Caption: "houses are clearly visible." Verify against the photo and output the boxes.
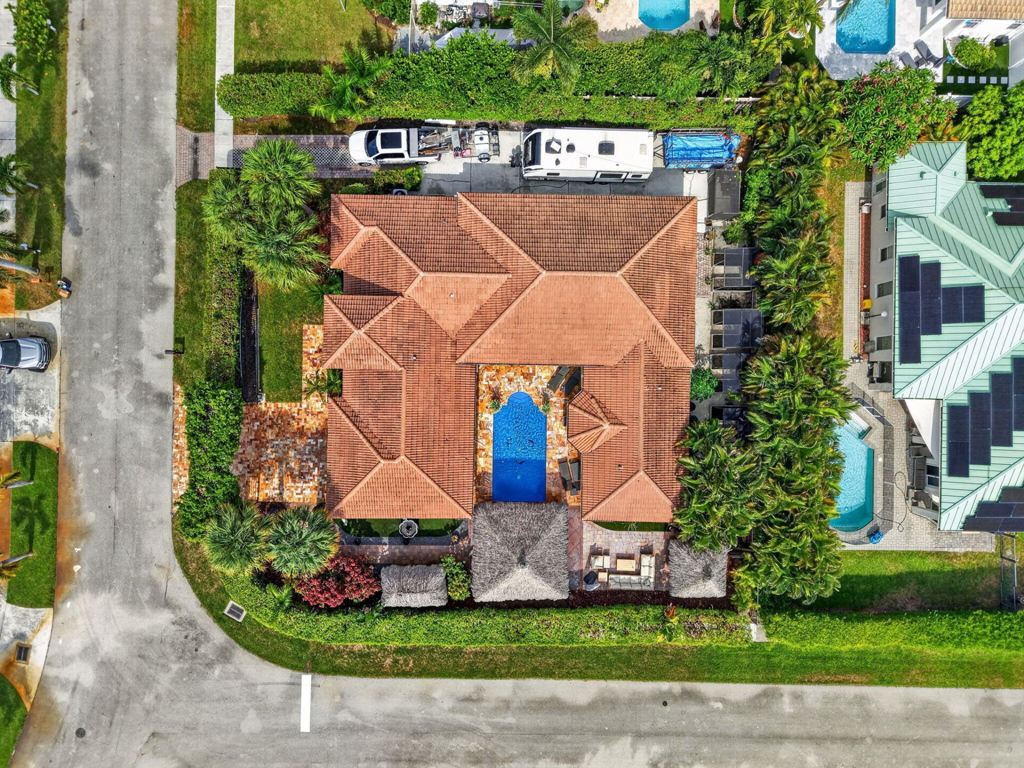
[921,0,1024,43]
[872,143,1024,533]
[322,191,699,524]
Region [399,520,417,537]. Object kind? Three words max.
fountain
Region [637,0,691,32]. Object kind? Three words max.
swimming pool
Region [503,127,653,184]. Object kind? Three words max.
trailer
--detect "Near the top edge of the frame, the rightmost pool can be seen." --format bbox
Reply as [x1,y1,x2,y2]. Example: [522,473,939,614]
[835,0,897,55]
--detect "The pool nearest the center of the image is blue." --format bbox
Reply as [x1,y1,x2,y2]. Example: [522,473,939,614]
[492,391,546,503]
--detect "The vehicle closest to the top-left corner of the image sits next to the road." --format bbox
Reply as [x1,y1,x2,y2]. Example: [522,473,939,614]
[0,332,51,372]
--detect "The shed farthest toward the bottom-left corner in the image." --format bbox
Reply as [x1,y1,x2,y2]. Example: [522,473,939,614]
[378,560,451,611]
